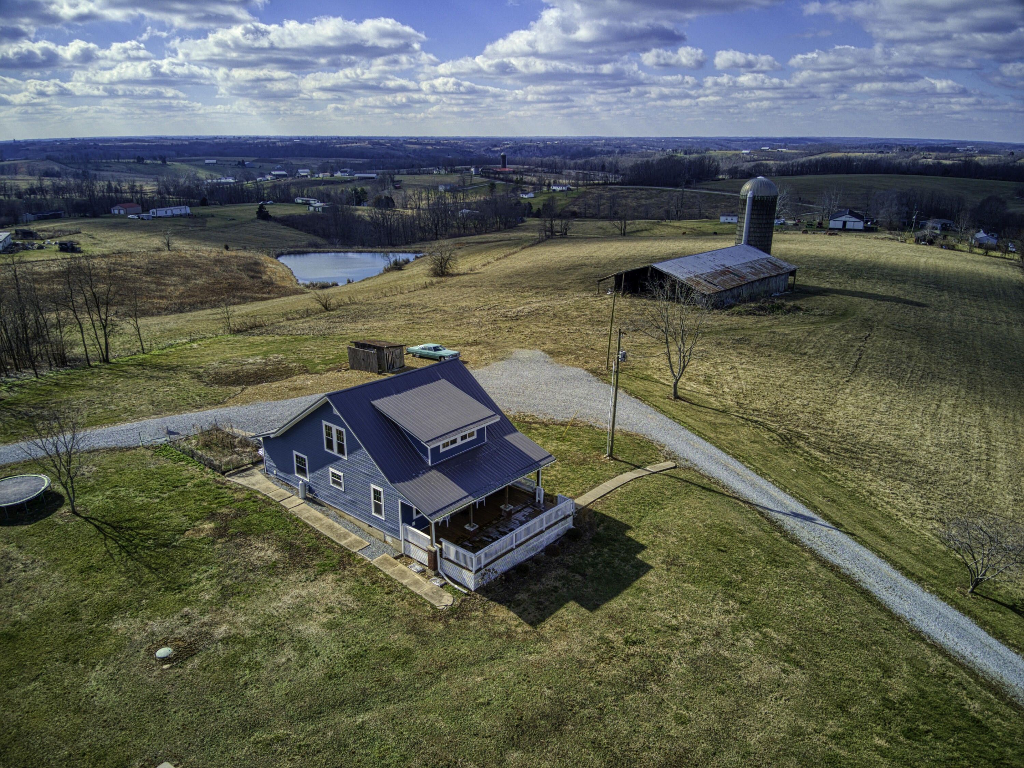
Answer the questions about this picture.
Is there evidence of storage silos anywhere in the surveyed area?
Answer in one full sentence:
Yes, the picture does show a storage silo.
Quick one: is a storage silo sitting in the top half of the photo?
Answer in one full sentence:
Yes, a storage silo can be seen in the top half of the photo.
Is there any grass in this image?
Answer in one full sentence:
Yes, grass can be seen from above here.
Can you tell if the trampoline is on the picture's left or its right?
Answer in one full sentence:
You can find the trampoline on the left side of the picture.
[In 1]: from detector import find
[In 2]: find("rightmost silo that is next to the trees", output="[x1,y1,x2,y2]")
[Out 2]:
[737,174,781,258]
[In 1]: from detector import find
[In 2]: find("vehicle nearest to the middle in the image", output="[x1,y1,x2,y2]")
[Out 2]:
[404,340,466,361]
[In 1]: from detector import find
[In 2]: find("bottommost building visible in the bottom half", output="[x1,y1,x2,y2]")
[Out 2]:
[252,357,574,596]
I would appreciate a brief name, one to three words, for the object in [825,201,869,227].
barn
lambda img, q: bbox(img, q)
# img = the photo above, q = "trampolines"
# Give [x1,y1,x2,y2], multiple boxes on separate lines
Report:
[0,470,52,511]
